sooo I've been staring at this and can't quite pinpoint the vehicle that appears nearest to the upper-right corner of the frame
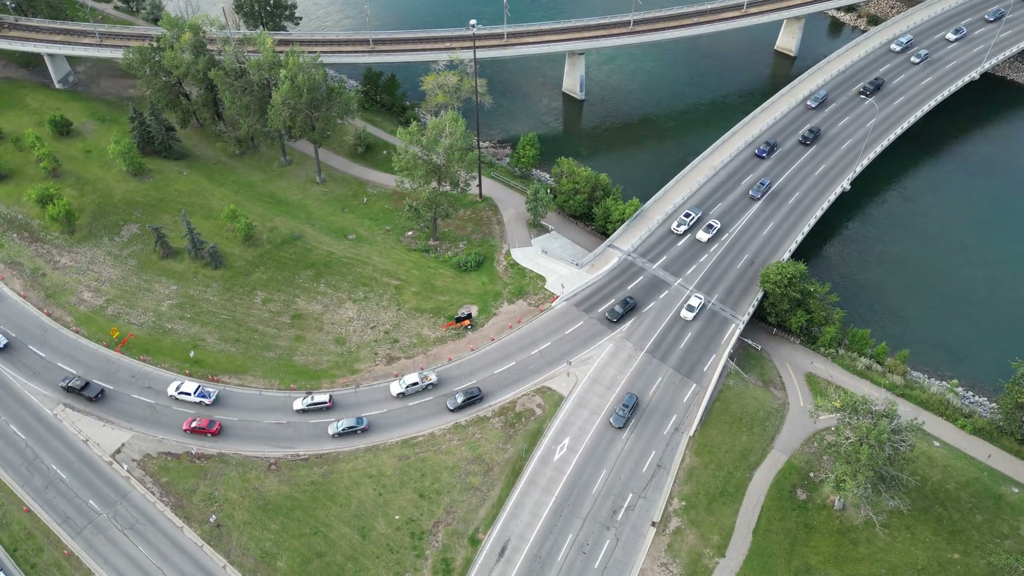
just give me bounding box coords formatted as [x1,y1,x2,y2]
[983,6,1007,23]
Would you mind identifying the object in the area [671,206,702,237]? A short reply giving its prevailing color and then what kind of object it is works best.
white truck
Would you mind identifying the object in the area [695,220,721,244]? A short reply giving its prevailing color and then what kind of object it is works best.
white car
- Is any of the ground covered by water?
Yes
